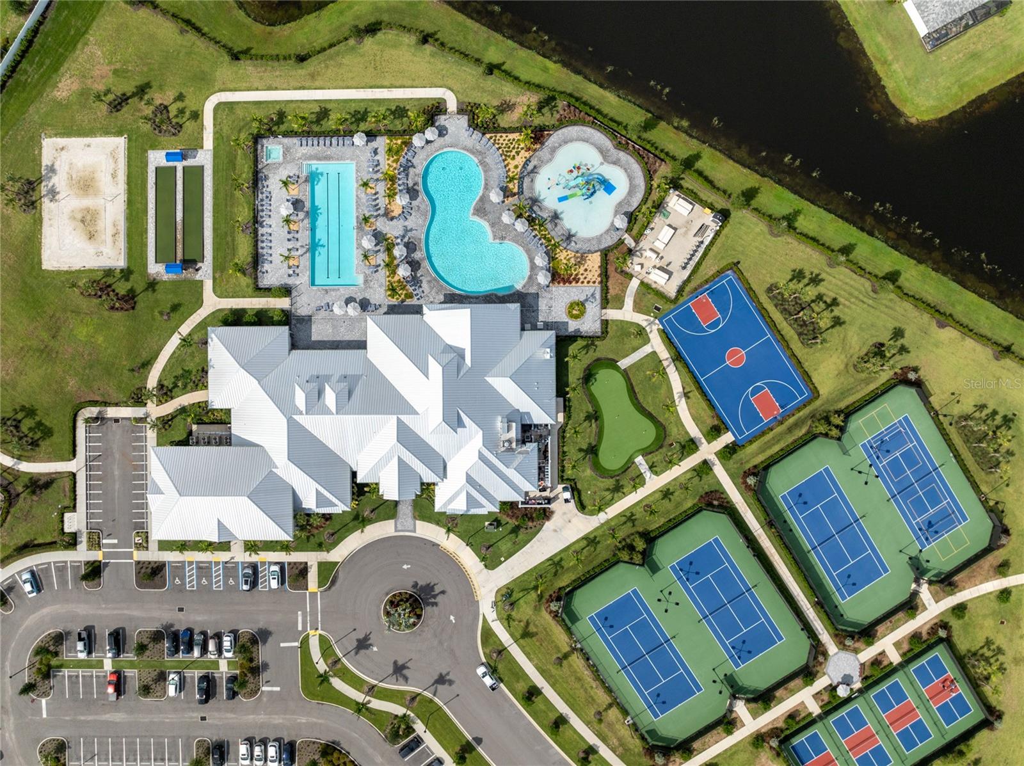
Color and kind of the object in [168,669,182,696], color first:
white car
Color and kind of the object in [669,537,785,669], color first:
blue tennis court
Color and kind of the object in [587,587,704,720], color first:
blue tennis court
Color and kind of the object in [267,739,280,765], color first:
white vehicle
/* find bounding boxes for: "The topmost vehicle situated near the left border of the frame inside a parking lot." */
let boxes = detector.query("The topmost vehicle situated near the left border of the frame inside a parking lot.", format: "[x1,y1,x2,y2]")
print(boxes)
[23,568,40,595]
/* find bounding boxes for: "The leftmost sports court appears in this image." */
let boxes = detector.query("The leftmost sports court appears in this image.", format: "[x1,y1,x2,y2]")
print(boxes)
[42,137,125,269]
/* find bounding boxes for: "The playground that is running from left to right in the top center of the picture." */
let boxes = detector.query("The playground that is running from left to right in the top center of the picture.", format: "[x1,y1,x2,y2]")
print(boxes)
[558,172,617,204]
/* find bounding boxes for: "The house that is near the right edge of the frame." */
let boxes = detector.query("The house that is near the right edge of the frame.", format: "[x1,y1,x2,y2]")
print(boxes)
[901,0,1014,52]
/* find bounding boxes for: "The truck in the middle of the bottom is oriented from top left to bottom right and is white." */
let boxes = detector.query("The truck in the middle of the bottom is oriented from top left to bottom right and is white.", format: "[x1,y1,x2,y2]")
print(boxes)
[476,661,499,691]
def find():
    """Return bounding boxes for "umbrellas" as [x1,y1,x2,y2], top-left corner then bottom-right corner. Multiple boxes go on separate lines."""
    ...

[413,133,426,147]
[398,264,411,277]
[393,246,407,259]
[362,235,376,249]
[348,303,361,316]
[425,127,438,141]
[353,133,367,146]
[501,211,515,224]
[281,203,294,215]
[835,683,849,697]
[515,218,528,232]
[490,189,503,202]
[396,192,409,205]
[334,302,347,315]
[535,253,548,266]
[613,214,627,228]
[538,272,550,284]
